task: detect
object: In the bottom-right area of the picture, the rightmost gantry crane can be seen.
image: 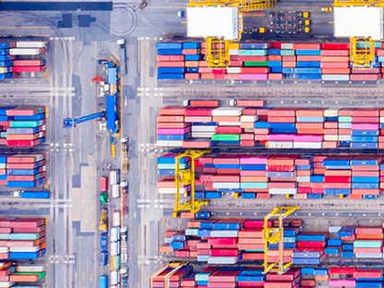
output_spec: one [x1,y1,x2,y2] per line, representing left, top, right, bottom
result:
[262,207,298,275]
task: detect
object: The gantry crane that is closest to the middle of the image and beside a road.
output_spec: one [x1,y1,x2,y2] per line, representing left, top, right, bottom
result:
[174,150,212,214]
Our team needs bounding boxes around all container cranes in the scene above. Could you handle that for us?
[174,150,212,214]
[262,207,298,275]
[188,0,289,69]
[333,0,384,69]
[146,262,188,288]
